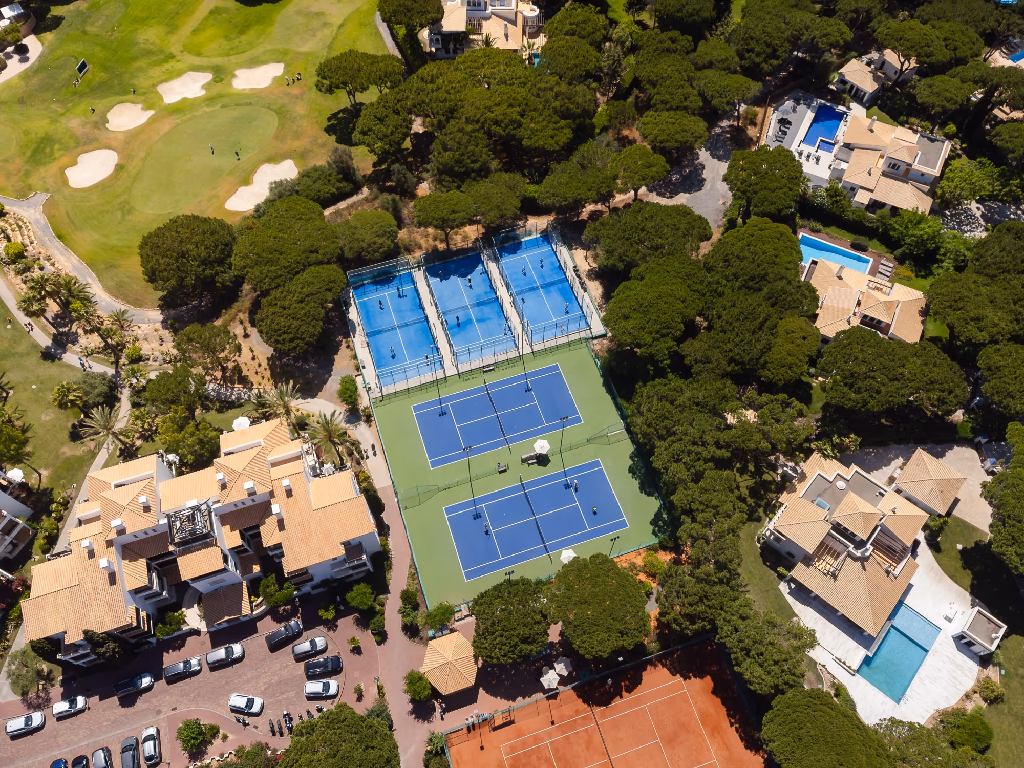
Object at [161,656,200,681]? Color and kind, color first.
gray car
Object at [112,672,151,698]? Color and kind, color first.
black car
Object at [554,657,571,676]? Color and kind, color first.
white umbrella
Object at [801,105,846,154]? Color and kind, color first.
blue swimming pool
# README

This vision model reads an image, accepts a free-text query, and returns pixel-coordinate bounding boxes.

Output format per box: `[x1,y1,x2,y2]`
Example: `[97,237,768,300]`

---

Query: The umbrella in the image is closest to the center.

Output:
[533,440,550,456]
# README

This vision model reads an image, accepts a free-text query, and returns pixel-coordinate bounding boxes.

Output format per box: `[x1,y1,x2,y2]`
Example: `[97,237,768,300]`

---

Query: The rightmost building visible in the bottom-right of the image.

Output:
[949,606,1007,657]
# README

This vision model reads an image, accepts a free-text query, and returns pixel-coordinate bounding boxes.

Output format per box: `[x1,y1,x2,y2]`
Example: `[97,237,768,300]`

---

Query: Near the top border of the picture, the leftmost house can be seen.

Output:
[429,0,546,62]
